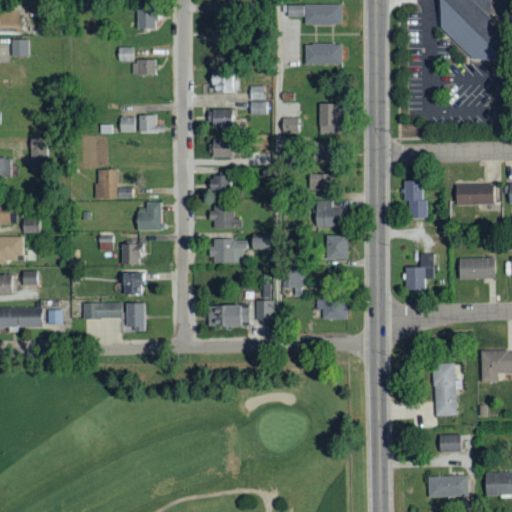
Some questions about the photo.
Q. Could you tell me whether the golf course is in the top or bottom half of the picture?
bottom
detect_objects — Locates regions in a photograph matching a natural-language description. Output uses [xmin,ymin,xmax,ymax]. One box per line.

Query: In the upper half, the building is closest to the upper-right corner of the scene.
[444,0,492,64]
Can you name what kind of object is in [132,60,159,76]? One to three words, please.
house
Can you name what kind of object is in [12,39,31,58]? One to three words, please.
building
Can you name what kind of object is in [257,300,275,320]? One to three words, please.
building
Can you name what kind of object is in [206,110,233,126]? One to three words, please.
house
